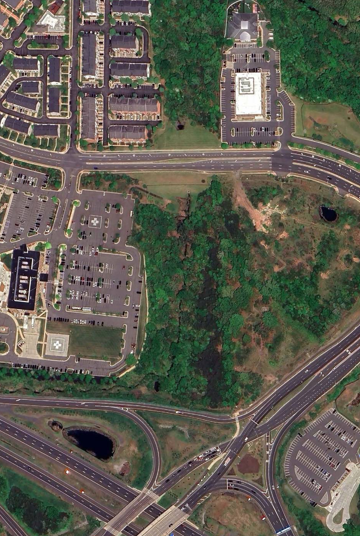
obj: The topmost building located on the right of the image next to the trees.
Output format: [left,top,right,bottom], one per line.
[227,12,258,41]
